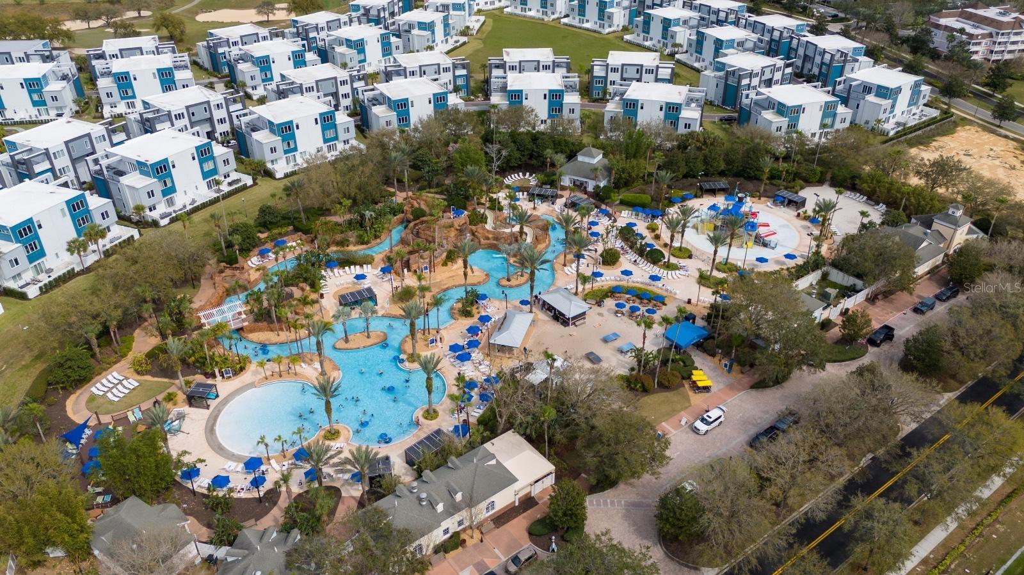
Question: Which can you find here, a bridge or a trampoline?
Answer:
bridge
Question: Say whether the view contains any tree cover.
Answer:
Yes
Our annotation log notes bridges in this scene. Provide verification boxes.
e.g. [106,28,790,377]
[191,297,255,339]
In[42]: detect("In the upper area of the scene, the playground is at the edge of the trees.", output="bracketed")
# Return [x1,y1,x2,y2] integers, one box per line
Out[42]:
[695,184,781,254]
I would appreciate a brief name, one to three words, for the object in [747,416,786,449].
car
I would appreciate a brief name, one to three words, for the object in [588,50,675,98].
house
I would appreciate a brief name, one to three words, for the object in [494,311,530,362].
building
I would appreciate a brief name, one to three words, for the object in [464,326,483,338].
umbrella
